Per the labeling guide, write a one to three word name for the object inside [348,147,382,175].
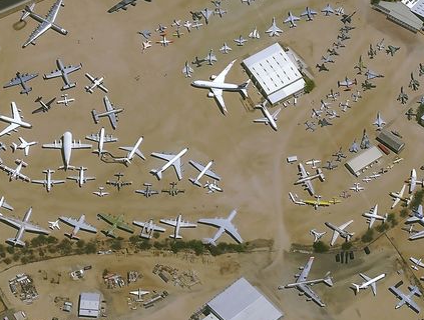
building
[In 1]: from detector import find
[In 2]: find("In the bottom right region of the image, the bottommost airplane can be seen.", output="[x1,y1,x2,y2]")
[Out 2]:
[389,286,420,312]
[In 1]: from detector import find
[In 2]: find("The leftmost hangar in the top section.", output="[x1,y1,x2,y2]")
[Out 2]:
[243,43,305,108]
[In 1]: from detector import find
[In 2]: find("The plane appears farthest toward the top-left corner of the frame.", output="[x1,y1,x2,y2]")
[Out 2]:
[21,0,68,46]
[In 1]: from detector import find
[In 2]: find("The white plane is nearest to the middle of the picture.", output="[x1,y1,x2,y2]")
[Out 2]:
[188,159,220,188]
